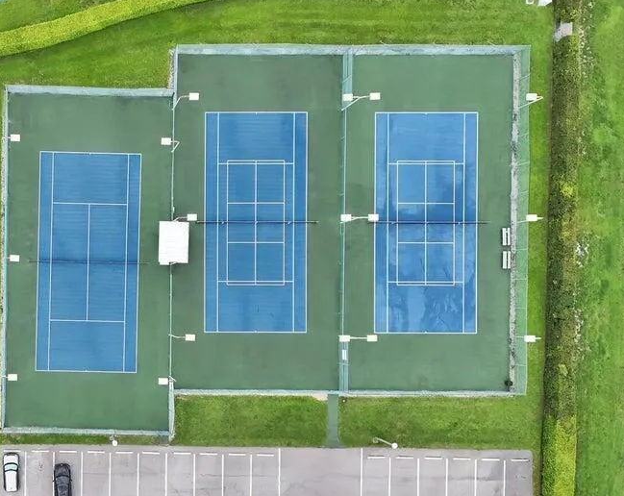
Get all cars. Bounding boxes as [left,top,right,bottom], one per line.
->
[1,451,20,493]
[51,462,73,496]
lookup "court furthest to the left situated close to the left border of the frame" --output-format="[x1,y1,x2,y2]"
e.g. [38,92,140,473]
[4,93,173,430]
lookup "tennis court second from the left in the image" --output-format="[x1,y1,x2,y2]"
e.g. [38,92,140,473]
[171,55,342,390]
